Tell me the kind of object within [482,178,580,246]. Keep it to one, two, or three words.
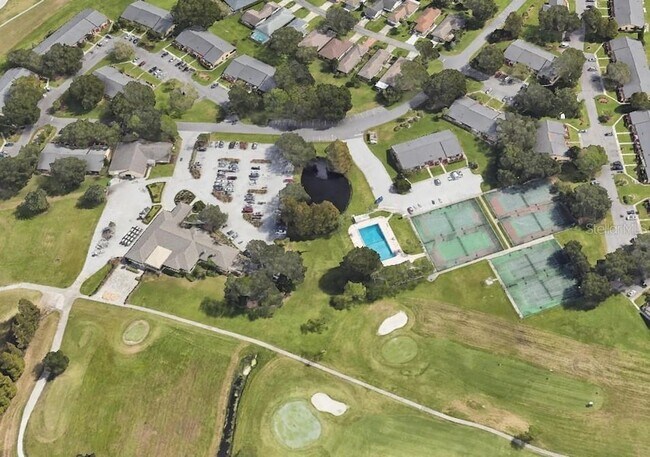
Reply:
tennis court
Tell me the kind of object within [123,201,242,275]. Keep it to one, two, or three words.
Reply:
building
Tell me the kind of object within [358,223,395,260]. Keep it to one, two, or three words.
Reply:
swimming pool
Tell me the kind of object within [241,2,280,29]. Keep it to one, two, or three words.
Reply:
house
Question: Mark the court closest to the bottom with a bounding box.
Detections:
[487,240,583,316]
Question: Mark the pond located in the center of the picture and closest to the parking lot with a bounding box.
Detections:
[301,158,352,209]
